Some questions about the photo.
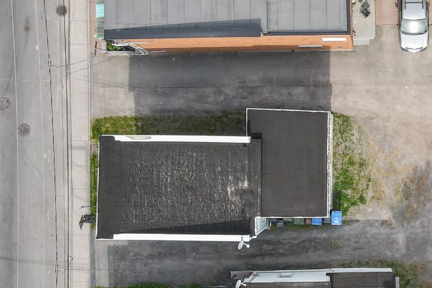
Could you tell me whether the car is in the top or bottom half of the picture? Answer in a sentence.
You can find the car in the top half.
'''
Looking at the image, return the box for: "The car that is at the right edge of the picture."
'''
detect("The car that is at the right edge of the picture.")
[396,0,431,51]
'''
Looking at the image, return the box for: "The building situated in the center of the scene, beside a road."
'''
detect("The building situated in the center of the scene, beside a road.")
[97,105,334,239]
